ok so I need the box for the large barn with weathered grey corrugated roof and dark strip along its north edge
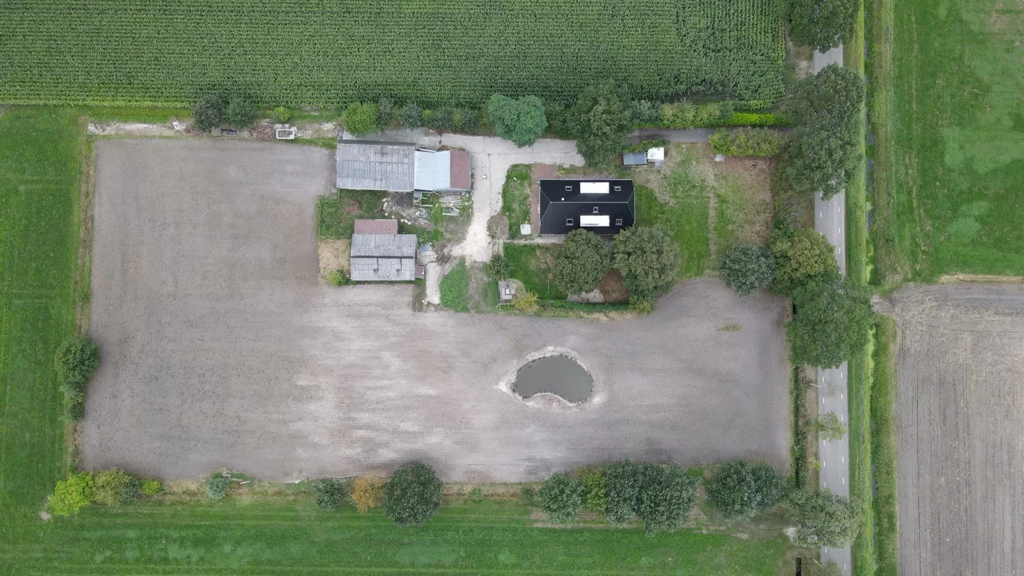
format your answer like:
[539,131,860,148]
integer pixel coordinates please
[334,139,416,192]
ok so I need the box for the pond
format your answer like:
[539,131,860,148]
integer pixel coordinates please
[512,355,593,404]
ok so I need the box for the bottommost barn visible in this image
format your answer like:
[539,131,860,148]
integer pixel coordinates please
[348,218,426,281]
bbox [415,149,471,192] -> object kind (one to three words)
shed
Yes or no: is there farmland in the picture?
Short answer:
Yes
